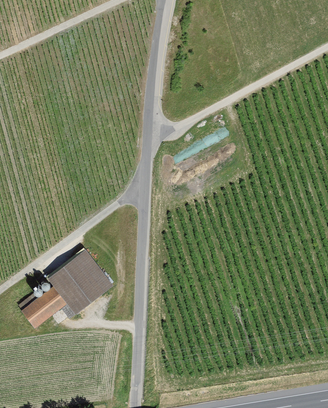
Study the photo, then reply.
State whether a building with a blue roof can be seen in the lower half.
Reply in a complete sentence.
No, there's no building with a blue roof to be seen in the lower half.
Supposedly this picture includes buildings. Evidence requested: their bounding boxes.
[48,248,112,314]
[22,286,66,328]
